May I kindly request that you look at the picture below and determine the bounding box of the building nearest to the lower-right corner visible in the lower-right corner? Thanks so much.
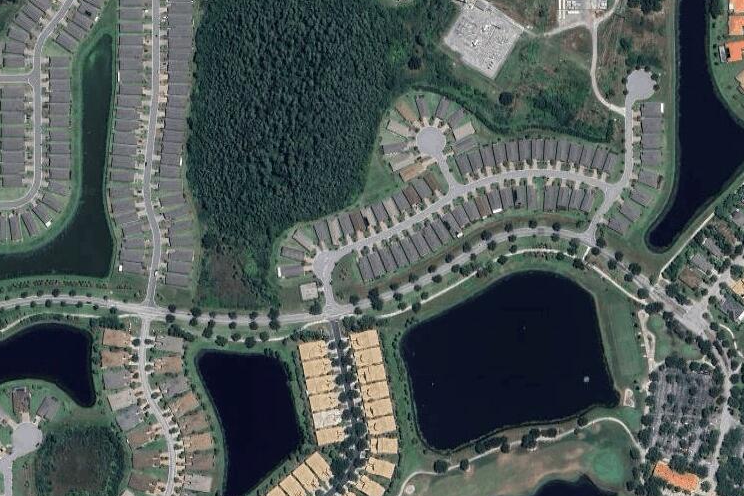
[652,462,700,491]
